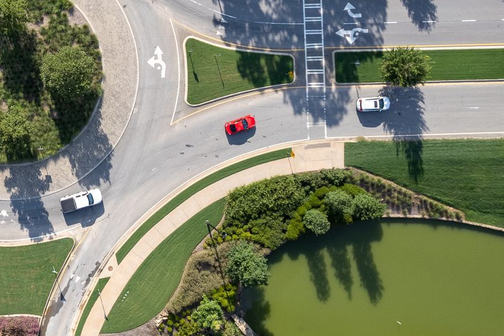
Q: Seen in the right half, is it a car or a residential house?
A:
car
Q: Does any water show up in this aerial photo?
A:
Yes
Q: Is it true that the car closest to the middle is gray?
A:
No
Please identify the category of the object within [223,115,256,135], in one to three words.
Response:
car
